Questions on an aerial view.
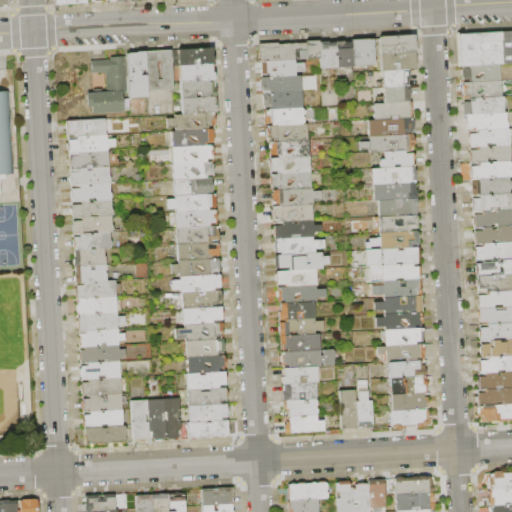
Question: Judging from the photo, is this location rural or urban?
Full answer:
The area is urban.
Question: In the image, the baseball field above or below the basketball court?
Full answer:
You can see the baseball field below the basketball court in the frame.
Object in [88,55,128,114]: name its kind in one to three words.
building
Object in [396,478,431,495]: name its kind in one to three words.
house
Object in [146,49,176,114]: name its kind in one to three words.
house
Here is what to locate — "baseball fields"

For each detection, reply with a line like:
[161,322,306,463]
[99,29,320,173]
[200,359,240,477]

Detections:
[0,274,29,436]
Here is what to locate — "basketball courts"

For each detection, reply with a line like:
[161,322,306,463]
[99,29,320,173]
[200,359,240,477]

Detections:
[0,200,25,270]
